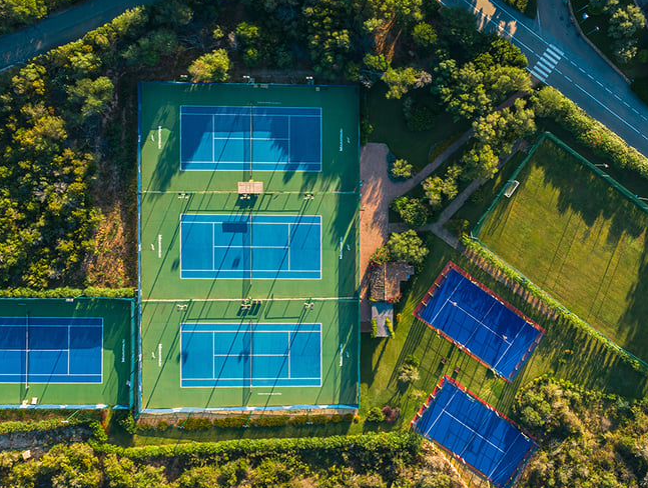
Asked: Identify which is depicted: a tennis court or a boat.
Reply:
tennis court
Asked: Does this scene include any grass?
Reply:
Yes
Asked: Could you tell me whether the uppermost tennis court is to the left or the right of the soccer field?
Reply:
to its left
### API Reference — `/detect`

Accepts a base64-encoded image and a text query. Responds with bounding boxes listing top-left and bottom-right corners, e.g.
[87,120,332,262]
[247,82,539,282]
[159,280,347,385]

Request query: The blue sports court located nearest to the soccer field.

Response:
[412,261,550,386]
